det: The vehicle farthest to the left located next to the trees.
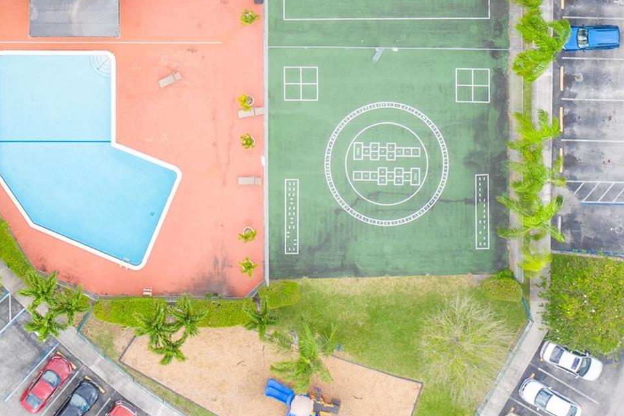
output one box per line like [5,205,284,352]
[20,351,72,413]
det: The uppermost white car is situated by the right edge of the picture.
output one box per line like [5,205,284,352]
[537,339,602,378]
